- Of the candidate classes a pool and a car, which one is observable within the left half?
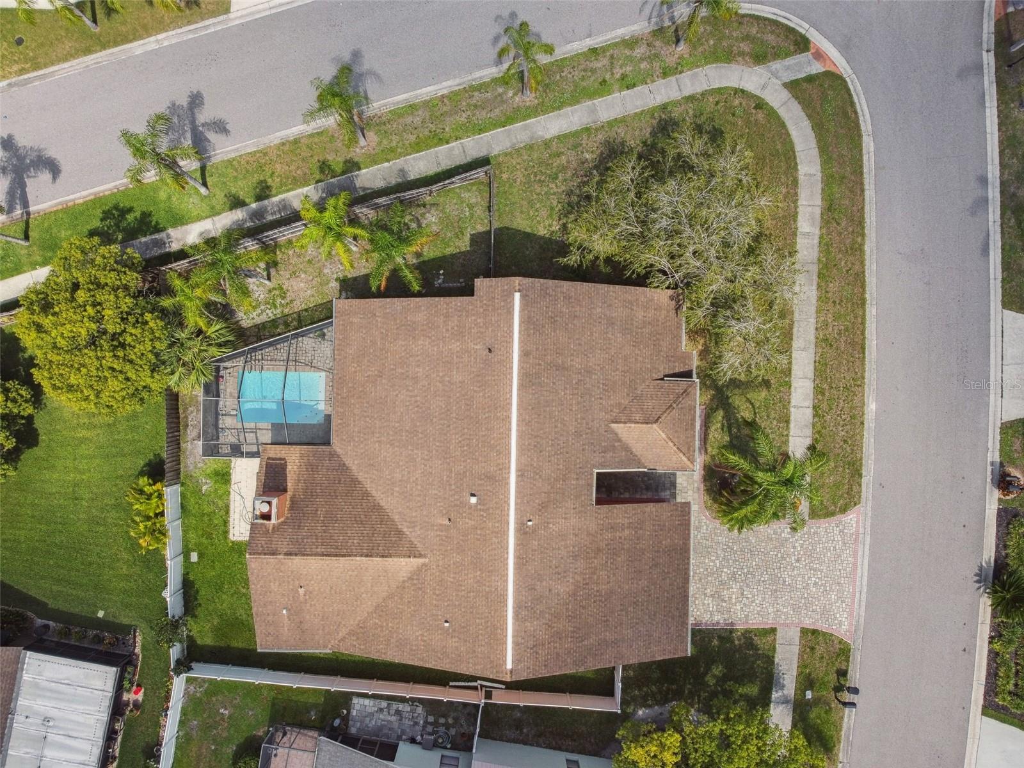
pool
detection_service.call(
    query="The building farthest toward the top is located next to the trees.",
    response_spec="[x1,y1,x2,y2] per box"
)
[246,277,700,681]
